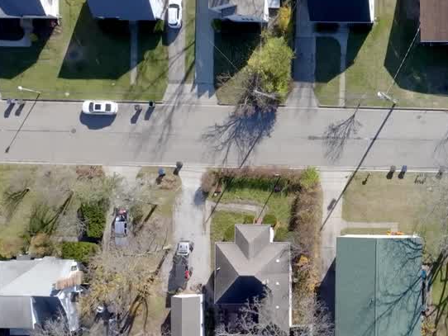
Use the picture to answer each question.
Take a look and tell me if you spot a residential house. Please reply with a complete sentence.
Yes, you can see a residential house in this photo.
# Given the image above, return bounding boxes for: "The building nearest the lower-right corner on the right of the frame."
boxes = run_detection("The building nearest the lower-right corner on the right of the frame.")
[335,237,423,336]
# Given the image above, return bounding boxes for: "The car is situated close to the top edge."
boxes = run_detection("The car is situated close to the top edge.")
[167,0,185,31]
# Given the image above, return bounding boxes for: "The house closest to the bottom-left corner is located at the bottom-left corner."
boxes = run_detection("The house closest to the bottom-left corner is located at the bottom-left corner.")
[0,254,85,336]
